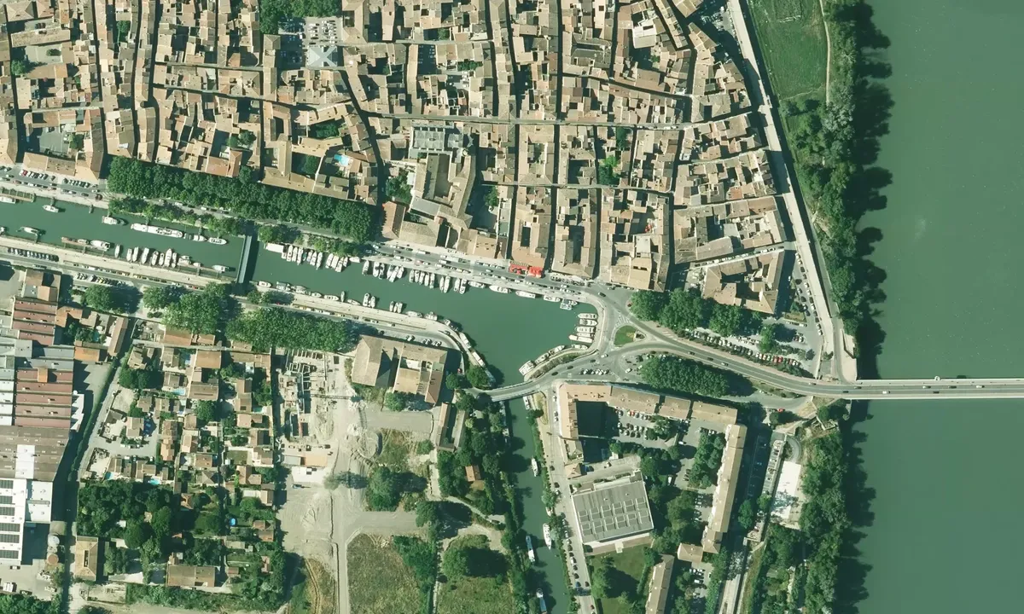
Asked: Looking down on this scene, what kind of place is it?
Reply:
residential area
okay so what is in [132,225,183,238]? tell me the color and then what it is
white boat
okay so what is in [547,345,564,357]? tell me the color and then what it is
white boat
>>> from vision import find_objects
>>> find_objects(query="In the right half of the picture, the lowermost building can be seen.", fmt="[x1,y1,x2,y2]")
[641,554,674,614]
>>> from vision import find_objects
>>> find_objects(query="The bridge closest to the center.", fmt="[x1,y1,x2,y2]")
[488,373,540,404]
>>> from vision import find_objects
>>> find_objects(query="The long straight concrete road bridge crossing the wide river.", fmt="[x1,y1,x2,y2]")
[853,377,1024,399]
